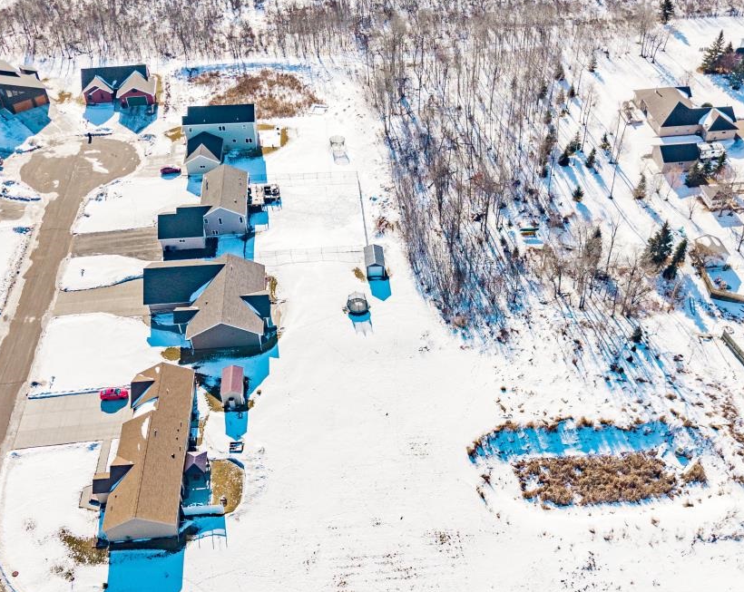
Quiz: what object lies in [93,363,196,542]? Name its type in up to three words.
house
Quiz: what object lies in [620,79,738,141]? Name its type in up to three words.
house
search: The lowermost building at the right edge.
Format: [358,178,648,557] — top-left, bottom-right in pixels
[697,235,736,264]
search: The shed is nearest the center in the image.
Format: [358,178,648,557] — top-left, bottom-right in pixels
[366,243,390,279]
